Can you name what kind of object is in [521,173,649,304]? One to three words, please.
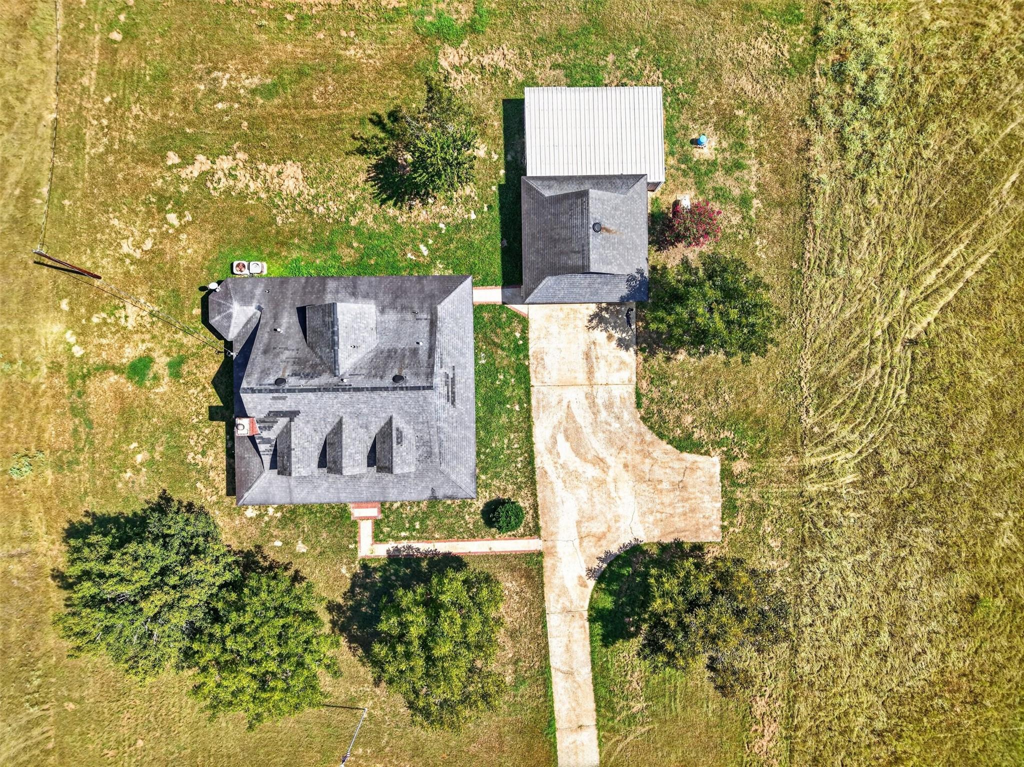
building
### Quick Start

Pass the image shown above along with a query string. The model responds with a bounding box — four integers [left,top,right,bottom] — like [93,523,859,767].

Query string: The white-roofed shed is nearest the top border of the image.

[525,86,665,191]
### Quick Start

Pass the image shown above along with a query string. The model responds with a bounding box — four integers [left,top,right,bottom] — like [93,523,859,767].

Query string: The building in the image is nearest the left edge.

[208,275,477,506]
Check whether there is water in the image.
No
